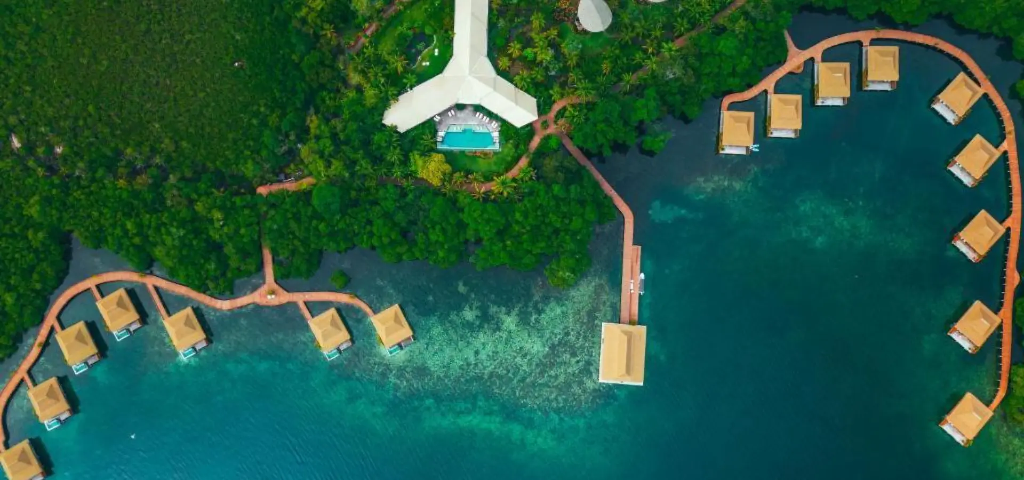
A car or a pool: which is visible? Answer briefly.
pool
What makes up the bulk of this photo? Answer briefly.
water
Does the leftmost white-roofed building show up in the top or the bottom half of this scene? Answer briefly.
top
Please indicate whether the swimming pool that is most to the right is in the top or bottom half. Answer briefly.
top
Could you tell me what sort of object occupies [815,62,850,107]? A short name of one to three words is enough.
house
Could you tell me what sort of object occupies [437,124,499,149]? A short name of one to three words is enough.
swimming pool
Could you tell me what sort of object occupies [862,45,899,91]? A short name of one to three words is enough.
house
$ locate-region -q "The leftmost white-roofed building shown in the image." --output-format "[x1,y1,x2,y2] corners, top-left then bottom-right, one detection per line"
[383,0,538,132]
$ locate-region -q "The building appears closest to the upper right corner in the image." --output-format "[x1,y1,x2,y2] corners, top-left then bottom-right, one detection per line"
[929,71,985,124]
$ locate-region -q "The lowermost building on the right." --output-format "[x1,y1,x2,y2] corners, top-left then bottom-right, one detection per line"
[937,392,993,442]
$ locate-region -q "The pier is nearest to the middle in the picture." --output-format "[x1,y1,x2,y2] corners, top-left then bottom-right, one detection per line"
[563,137,633,323]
